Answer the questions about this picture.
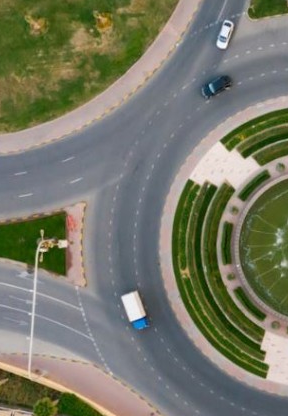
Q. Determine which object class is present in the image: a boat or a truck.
truck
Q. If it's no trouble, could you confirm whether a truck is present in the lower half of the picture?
Yes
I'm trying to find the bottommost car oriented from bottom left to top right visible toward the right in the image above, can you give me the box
[201,74,232,99]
